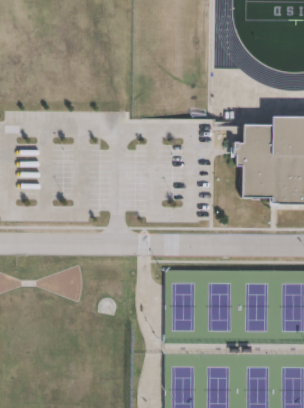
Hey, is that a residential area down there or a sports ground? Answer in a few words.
sports ground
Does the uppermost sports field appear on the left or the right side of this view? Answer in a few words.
right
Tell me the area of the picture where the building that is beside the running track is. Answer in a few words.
right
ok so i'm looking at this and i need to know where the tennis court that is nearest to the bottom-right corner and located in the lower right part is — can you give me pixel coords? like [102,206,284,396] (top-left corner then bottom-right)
[282,367,304,408]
